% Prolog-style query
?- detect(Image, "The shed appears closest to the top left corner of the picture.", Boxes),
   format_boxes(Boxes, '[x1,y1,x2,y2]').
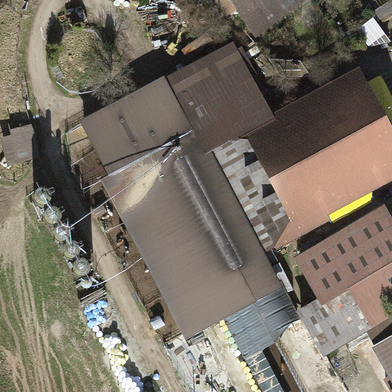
[2,125,33,166]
